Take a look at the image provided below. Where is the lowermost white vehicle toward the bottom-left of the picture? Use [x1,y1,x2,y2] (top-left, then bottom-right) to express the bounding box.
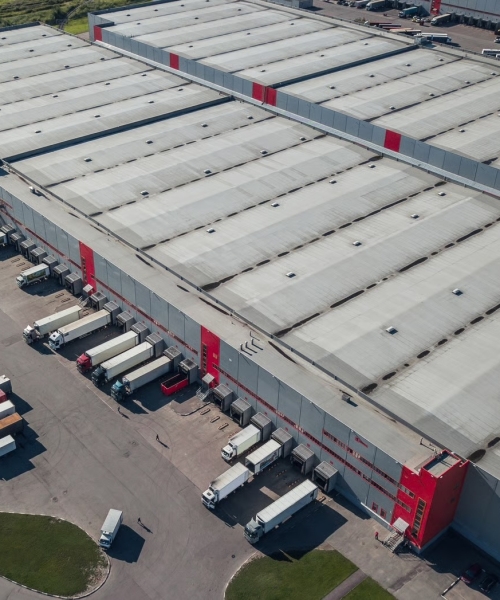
[94,506,123,550]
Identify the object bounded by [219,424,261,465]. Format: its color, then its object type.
white truck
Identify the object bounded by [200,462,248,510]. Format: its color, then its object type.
white truck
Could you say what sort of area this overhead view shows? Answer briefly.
industrial area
